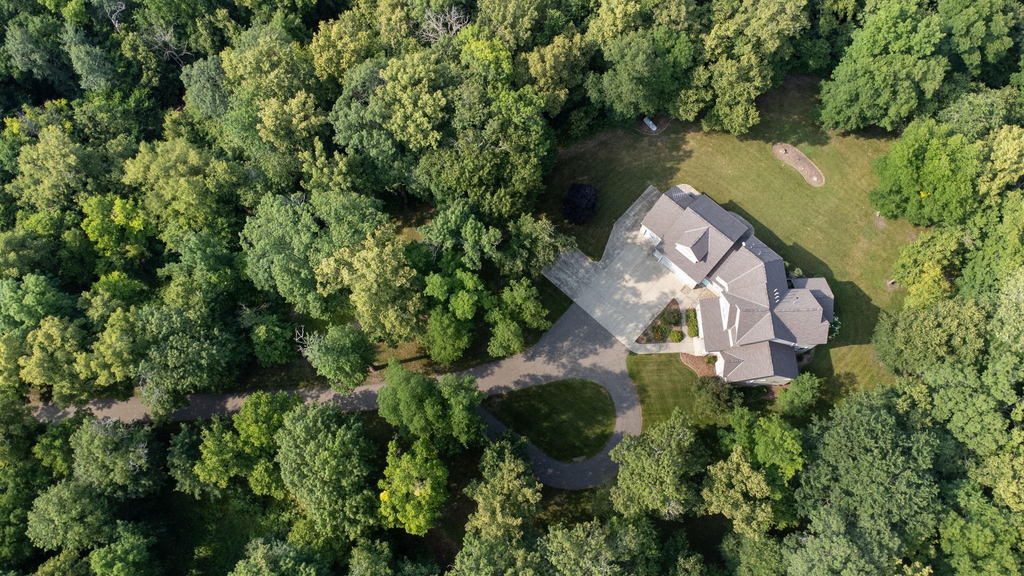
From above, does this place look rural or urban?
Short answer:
rural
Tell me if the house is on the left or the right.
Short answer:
right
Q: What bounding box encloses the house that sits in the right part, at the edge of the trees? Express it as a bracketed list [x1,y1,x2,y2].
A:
[641,186,835,385]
